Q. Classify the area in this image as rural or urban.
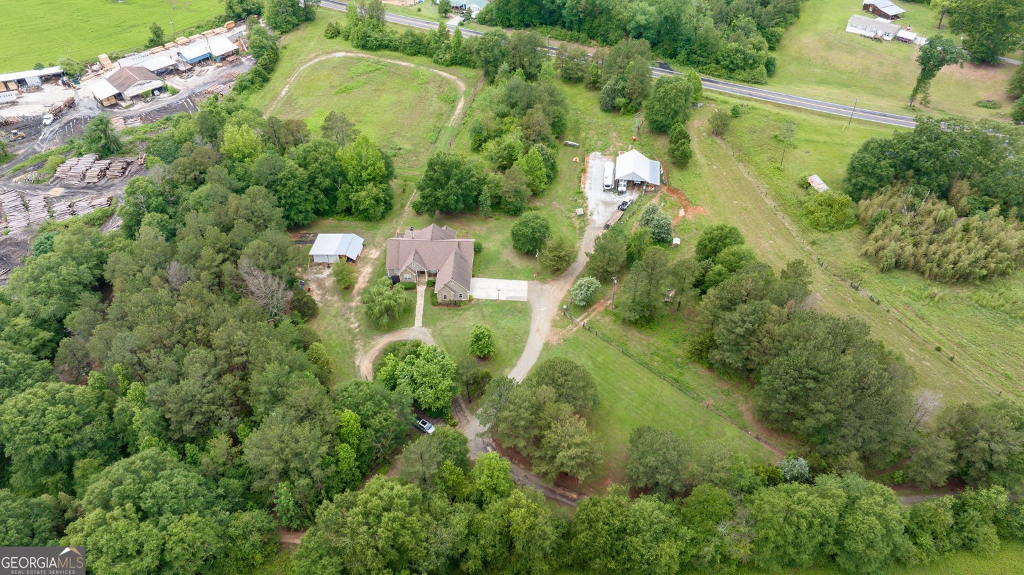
rural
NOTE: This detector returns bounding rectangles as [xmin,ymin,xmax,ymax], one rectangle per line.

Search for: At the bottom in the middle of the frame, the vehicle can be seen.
[409,413,437,437]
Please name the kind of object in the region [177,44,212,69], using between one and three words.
building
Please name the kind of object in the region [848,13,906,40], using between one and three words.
house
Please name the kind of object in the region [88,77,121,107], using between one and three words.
shed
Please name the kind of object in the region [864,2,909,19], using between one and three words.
barn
